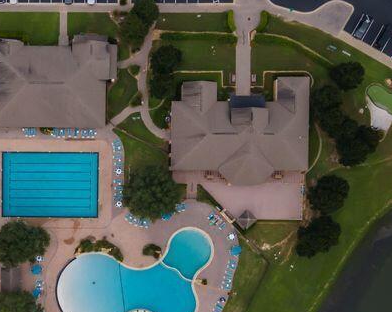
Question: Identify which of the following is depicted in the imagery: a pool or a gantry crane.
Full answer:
This aerial view contains a pool.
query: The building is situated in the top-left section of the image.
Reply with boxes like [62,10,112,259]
[0,35,118,129]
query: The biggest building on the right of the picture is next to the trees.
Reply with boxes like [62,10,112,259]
[169,77,310,186]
